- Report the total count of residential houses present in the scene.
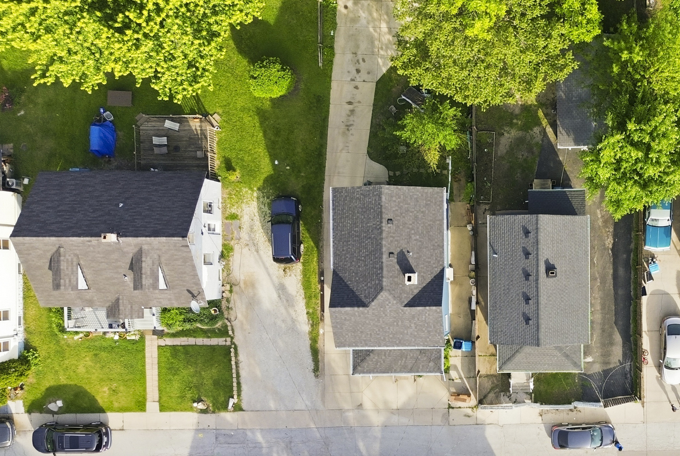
3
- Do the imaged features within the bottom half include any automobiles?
Yes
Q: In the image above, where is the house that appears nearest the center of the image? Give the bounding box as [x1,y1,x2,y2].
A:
[327,156,455,380]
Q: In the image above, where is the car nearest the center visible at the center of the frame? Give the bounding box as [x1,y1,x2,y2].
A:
[268,197,303,264]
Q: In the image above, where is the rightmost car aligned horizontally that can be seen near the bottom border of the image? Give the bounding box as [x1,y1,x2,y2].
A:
[550,421,616,453]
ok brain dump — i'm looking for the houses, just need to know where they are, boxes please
[487,184,592,393]
[327,156,455,380]
[6,171,222,333]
